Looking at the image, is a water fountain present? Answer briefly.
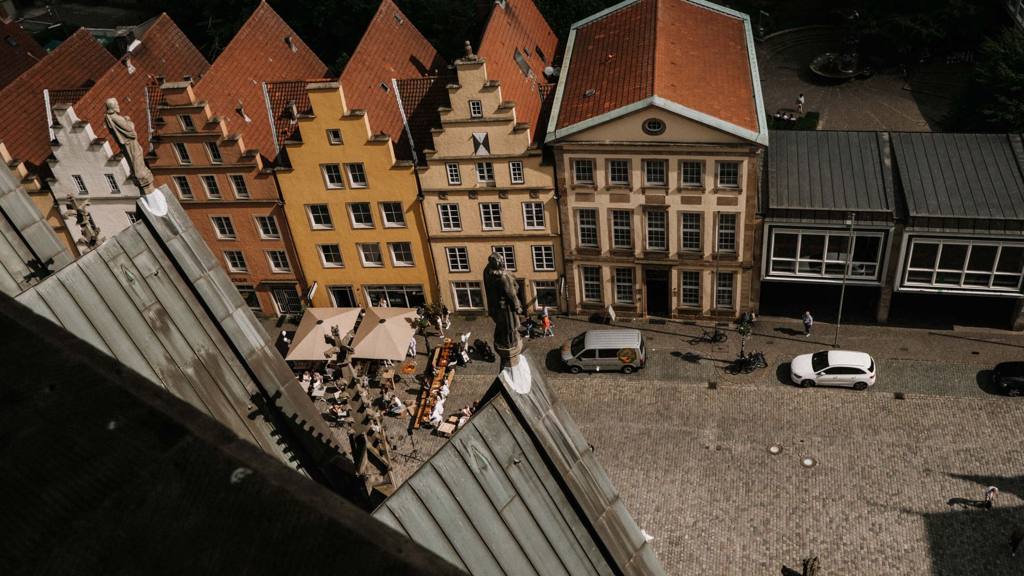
Yes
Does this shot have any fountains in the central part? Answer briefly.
No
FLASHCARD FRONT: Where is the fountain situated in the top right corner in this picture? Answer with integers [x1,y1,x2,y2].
[811,36,874,85]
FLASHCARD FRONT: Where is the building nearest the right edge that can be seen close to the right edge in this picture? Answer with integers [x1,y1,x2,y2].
[893,133,1024,297]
